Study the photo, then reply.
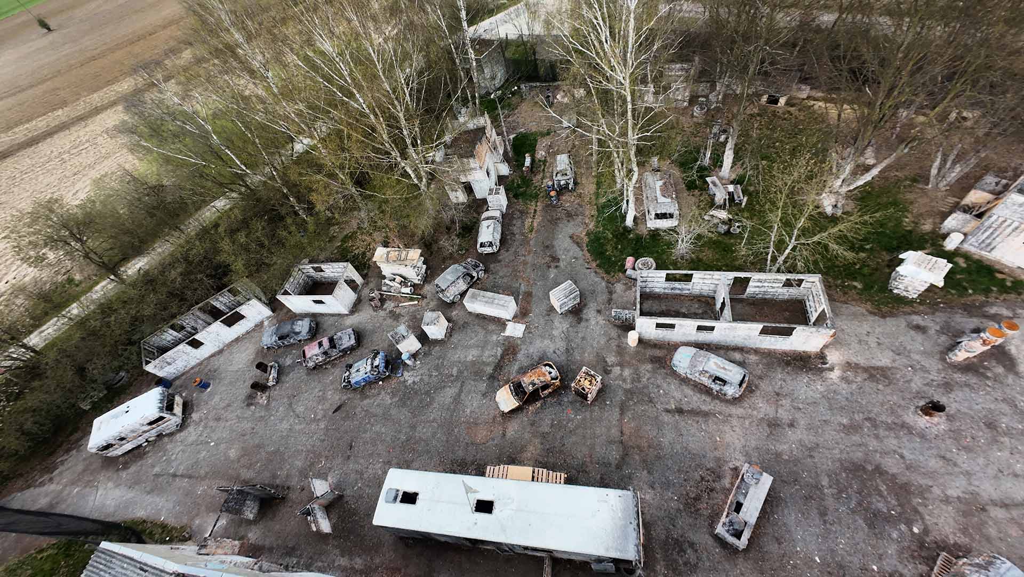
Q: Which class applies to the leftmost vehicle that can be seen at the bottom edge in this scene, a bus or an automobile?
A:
bus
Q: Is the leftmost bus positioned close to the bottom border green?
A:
No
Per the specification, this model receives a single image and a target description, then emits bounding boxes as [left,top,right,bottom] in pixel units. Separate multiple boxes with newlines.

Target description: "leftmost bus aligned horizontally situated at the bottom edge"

[375,469,639,571]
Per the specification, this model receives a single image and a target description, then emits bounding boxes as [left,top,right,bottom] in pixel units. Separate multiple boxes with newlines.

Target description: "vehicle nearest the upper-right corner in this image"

[641,167,677,229]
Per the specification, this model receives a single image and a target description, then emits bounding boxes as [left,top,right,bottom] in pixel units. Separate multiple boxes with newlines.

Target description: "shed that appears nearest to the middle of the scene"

[452,113,513,199]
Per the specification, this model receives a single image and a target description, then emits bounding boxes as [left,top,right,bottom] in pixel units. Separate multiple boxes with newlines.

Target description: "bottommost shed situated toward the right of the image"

[636,270,837,351]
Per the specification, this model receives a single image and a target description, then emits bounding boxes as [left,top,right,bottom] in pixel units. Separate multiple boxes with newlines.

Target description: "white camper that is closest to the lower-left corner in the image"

[88,388,189,457]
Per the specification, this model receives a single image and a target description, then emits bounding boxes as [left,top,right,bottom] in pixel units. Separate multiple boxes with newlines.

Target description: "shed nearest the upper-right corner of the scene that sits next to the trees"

[927,175,1024,298]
